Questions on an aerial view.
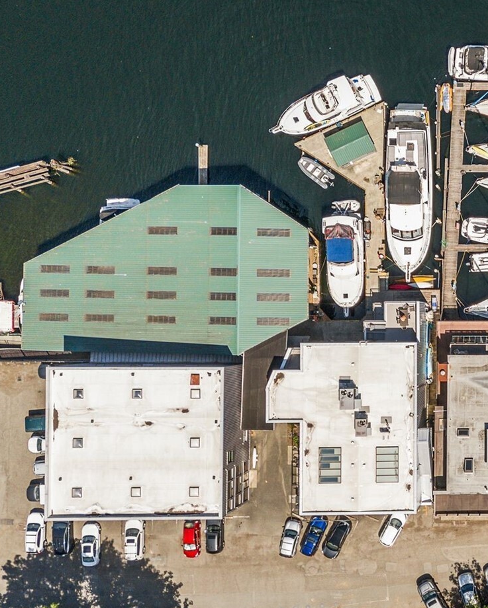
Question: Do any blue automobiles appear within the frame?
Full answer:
Yes, the picture does show a blue automobile.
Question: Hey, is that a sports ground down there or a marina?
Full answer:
This looks like a marina.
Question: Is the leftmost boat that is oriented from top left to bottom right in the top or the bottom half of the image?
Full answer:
Seen from above, the leftmost boat that is oriented from top left to bottom right lies in the top half of the view.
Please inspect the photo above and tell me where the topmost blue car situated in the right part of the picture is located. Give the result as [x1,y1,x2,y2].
[299,515,328,558]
